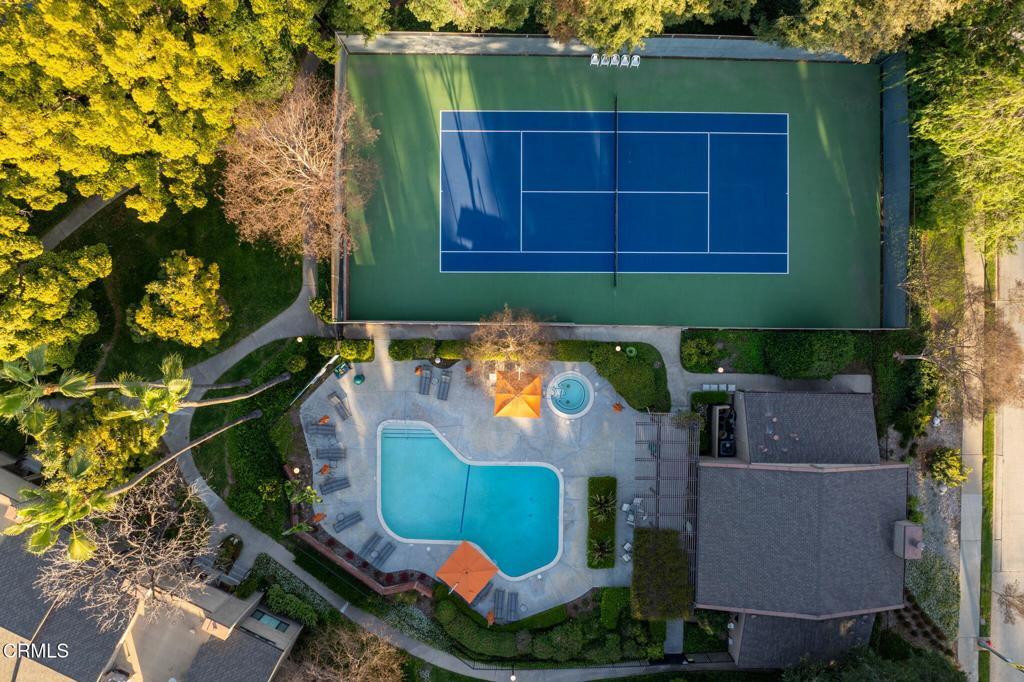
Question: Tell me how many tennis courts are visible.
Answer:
1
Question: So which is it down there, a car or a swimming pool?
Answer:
swimming pool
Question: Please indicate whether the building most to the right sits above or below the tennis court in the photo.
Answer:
below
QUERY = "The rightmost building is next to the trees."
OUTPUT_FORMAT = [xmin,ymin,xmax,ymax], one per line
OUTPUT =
[694,390,928,664]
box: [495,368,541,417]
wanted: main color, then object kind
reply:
orange umbrella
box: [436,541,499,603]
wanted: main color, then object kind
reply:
orange umbrella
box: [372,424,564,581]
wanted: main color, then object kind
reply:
blue swimming pool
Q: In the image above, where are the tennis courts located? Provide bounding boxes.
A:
[347,55,881,328]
